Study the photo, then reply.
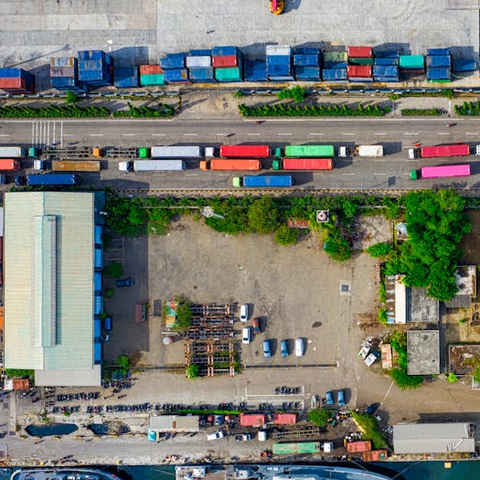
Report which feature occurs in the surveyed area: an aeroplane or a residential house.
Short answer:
residential house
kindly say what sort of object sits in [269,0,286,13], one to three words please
vehicle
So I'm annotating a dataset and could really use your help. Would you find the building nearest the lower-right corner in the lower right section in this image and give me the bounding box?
[393,420,476,453]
